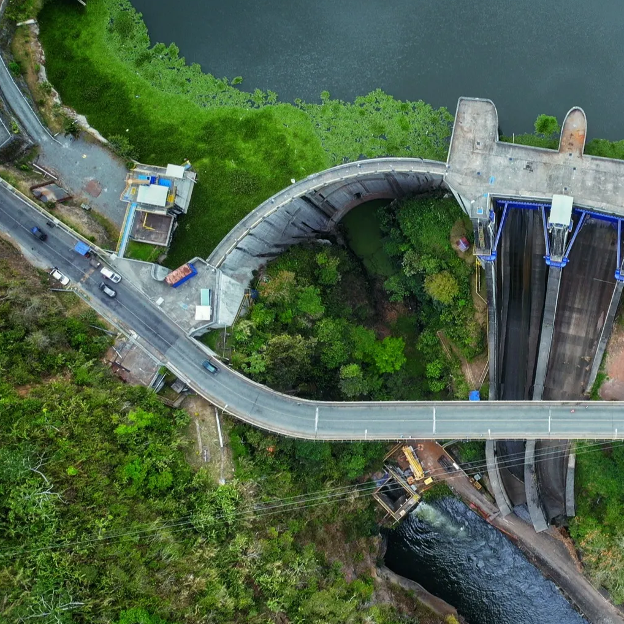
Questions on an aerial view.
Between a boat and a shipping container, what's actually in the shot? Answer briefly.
shipping container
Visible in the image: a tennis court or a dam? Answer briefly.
dam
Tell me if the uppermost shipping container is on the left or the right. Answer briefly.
left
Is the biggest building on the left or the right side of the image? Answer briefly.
left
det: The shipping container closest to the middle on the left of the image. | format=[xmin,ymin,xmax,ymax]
[166,262,199,287]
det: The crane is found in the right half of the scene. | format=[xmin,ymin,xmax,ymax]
[395,441,434,481]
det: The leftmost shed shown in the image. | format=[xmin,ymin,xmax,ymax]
[29,180,78,205]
